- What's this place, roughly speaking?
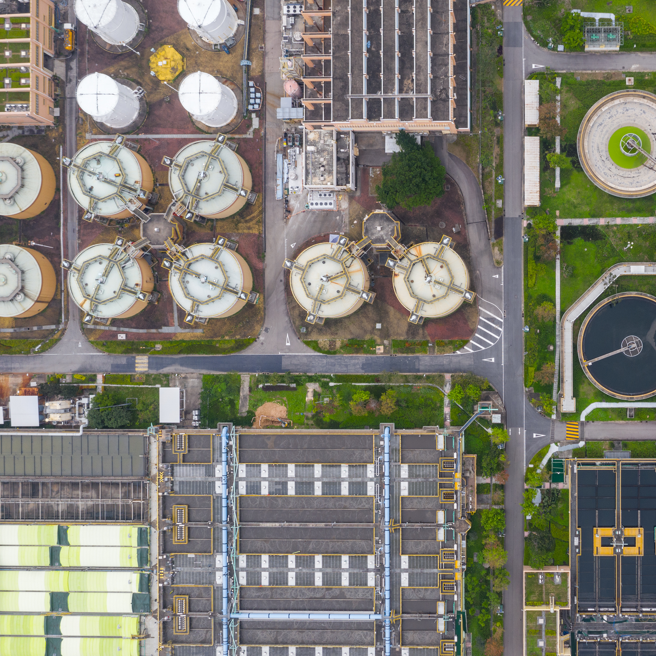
industrial area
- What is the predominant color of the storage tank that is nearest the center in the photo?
white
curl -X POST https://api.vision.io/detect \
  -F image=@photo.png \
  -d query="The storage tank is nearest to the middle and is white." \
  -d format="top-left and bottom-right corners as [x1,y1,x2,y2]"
[281,235,372,324]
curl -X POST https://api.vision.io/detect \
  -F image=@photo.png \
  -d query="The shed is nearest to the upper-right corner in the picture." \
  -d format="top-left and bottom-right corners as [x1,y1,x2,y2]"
[525,80,540,126]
